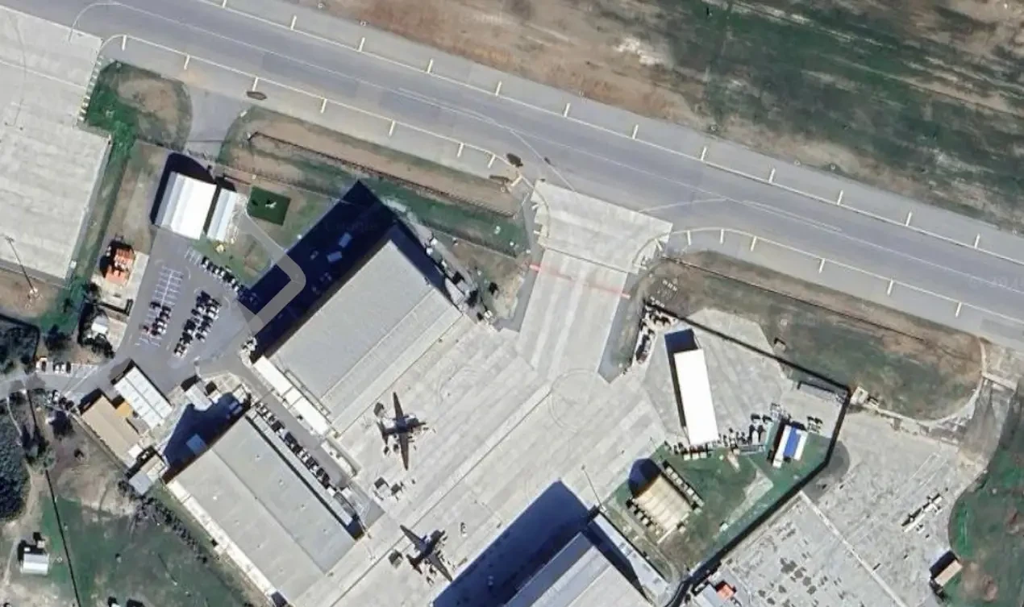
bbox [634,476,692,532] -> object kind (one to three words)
hangar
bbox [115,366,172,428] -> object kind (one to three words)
building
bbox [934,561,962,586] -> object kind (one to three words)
shed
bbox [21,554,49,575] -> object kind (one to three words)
house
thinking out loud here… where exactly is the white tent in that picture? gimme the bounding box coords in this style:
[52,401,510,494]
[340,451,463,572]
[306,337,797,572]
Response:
[775,425,807,463]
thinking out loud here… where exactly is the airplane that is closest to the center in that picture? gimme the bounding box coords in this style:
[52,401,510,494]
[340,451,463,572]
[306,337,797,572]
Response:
[379,393,427,468]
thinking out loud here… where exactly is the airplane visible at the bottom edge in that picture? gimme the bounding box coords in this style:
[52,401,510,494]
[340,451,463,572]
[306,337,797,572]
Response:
[398,526,455,580]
